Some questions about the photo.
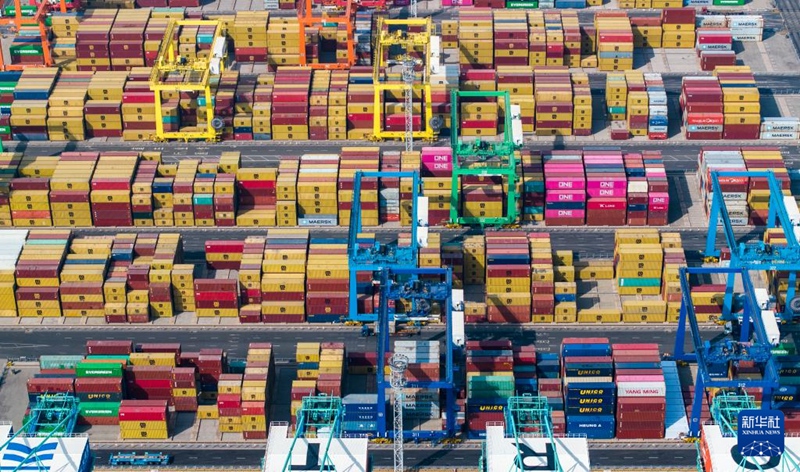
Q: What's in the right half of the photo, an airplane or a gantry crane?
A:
gantry crane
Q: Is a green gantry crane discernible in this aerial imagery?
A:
Yes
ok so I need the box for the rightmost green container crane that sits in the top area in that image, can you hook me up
[444,93,524,228]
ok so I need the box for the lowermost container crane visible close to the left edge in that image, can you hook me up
[0,392,93,472]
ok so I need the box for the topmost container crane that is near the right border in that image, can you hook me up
[701,172,800,325]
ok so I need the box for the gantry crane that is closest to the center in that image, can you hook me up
[341,172,430,325]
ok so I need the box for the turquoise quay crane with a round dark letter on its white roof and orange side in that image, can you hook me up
[691,392,800,472]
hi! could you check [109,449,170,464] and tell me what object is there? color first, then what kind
blue vehicle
